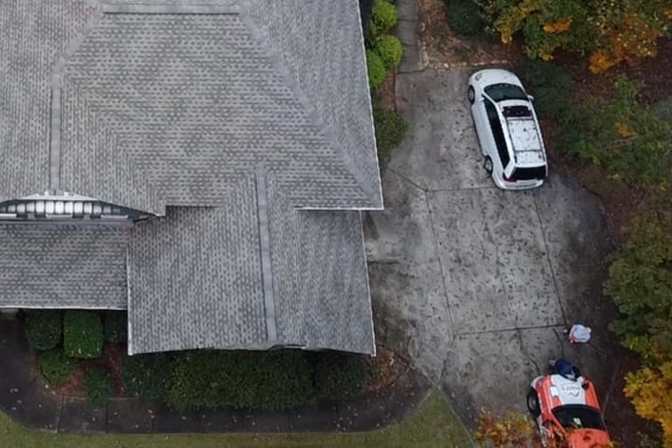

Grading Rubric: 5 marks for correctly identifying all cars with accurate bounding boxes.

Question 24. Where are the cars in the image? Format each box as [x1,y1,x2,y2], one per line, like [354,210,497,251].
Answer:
[470,68,549,188]
[526,369,615,448]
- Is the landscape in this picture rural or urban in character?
urban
